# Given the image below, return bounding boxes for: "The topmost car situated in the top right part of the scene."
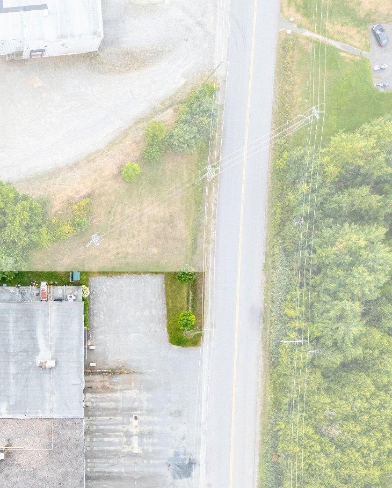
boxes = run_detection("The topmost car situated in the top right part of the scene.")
[370,24,388,47]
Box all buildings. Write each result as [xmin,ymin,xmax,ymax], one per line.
[0,0,104,55]
[0,300,86,488]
